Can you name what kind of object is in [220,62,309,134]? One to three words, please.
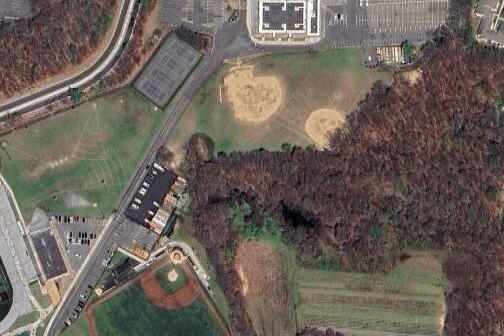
baseball field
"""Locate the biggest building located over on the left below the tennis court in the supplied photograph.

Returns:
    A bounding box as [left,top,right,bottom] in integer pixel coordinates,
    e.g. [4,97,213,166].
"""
[125,162,179,231]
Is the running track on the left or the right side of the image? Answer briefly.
left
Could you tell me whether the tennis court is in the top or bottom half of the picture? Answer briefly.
top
